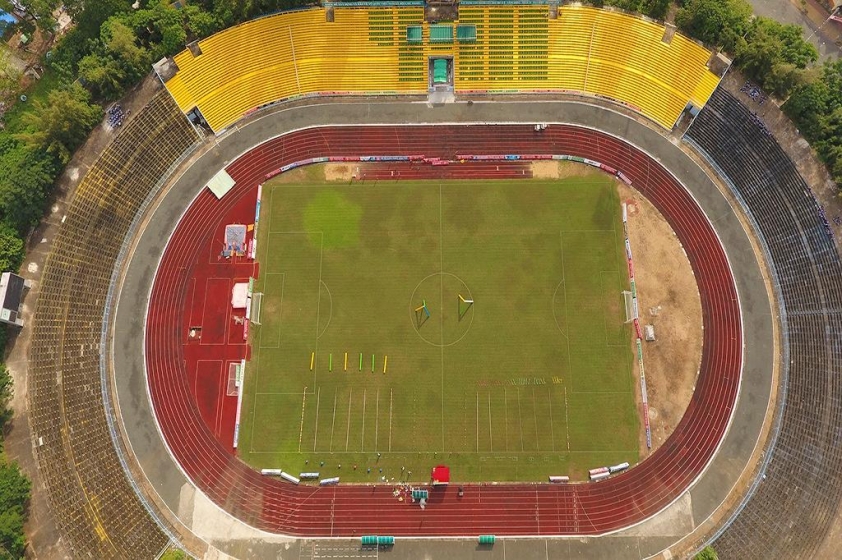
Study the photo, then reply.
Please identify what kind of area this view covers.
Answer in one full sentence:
The area seen from above is a sports ground.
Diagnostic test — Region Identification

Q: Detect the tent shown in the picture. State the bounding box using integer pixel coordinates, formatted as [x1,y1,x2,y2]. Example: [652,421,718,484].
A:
[433,466,450,486]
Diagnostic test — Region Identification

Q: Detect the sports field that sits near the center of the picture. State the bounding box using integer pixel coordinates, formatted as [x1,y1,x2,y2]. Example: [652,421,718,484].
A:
[237,158,642,486]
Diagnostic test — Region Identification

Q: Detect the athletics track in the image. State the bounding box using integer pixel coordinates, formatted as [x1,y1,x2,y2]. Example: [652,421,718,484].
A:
[146,123,743,538]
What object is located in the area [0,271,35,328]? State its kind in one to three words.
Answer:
building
